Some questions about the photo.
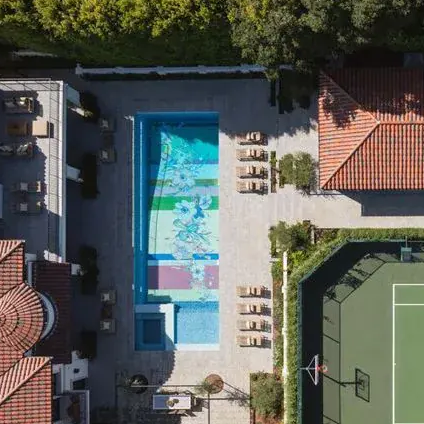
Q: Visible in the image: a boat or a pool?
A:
pool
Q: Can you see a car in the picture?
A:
No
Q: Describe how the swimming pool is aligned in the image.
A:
from top to bottom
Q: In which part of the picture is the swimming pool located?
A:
center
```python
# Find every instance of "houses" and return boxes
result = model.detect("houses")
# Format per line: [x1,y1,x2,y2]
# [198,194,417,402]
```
[0,79,93,424]
[319,65,424,190]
